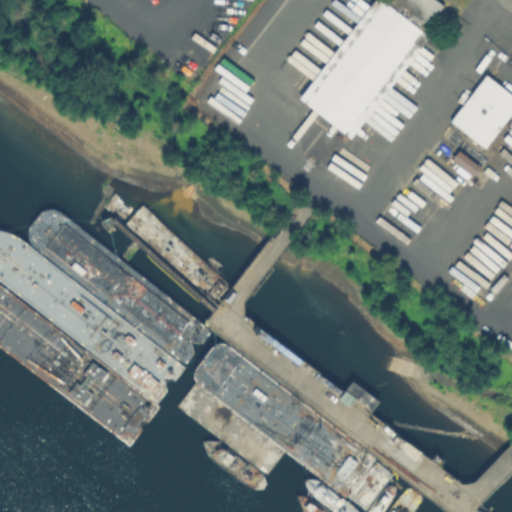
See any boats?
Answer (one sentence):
Yes, there's a boat here.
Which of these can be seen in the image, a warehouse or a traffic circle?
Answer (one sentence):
This aerial view contains a warehouse.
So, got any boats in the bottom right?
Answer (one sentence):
Yes, a boat appears in the bottom right.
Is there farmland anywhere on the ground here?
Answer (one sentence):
No, there's no farmland in this view.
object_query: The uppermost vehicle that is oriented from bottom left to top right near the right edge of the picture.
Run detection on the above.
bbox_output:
[478,50,496,74]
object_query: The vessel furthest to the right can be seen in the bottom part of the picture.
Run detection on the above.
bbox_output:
[389,487,423,512]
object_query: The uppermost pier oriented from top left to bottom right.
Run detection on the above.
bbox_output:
[116,220,216,308]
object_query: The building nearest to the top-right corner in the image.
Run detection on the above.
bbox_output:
[452,74,512,148]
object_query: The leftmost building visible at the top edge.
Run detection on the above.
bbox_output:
[301,0,426,131]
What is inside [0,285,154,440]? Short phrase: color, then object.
gray ship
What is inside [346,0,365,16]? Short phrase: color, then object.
white vehicle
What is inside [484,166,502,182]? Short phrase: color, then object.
white vehicle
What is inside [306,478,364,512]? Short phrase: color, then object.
white boat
